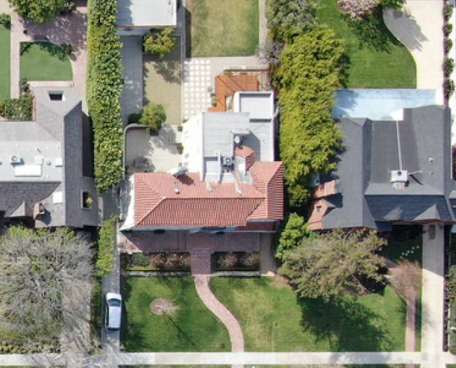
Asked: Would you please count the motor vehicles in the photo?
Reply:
1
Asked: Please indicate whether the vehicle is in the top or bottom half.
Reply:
bottom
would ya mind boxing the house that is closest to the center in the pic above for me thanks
[124,92,283,231]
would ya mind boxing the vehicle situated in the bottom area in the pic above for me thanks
[102,293,123,331]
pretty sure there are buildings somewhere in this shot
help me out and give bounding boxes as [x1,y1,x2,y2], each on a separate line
[0,86,101,226]
[124,92,283,231]
[296,106,456,232]
[111,0,176,36]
